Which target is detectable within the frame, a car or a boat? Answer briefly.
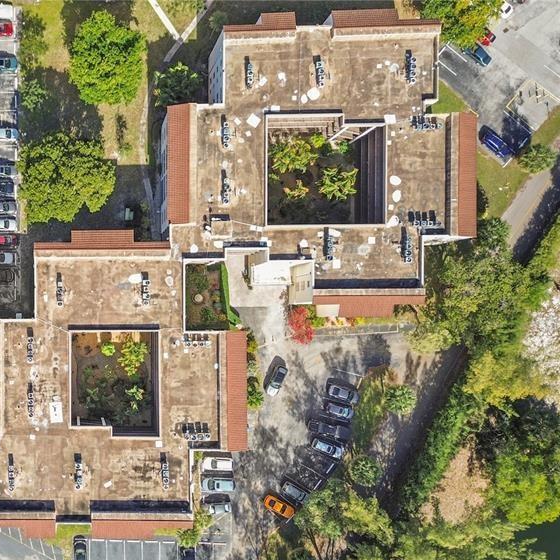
car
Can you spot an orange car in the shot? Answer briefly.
Yes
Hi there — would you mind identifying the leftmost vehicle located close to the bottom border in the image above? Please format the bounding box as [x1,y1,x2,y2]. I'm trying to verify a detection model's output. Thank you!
[74,538,88,560]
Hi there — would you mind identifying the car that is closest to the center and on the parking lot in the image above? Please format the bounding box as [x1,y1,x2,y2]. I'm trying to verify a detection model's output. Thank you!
[266,365,285,392]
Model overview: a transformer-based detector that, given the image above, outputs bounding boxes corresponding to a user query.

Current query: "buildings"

[159,6,480,318]
[0,228,248,541]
